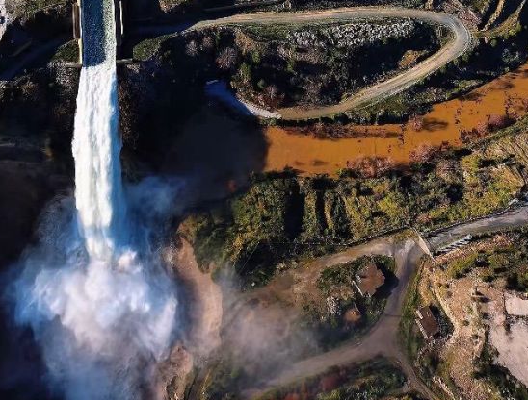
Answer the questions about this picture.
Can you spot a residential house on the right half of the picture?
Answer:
Yes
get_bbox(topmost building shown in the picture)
[349,263,389,301]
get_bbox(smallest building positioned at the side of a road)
[342,303,364,327]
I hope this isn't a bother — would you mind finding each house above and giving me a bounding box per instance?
[413,304,446,343]
[349,263,389,301]
[342,303,364,327]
